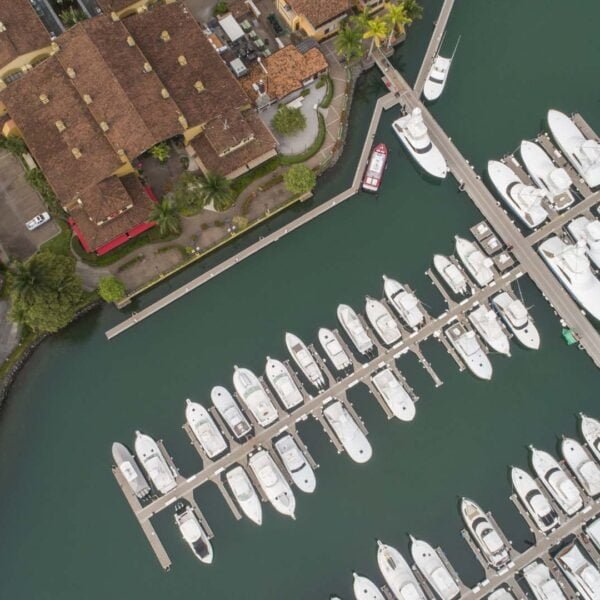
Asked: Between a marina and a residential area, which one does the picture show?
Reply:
marina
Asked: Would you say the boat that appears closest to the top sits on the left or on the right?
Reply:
right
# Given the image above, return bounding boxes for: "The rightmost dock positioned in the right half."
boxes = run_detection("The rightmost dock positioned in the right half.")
[507,112,600,254]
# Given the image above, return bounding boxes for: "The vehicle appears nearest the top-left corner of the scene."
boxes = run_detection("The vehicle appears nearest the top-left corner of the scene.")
[22,211,52,231]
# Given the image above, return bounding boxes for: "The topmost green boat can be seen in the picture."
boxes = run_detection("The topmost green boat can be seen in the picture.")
[560,328,577,345]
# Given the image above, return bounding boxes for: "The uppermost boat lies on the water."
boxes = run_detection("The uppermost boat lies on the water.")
[425,28,472,101]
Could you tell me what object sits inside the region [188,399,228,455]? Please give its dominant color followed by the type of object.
white boat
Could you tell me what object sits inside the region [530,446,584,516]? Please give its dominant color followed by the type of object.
white boat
